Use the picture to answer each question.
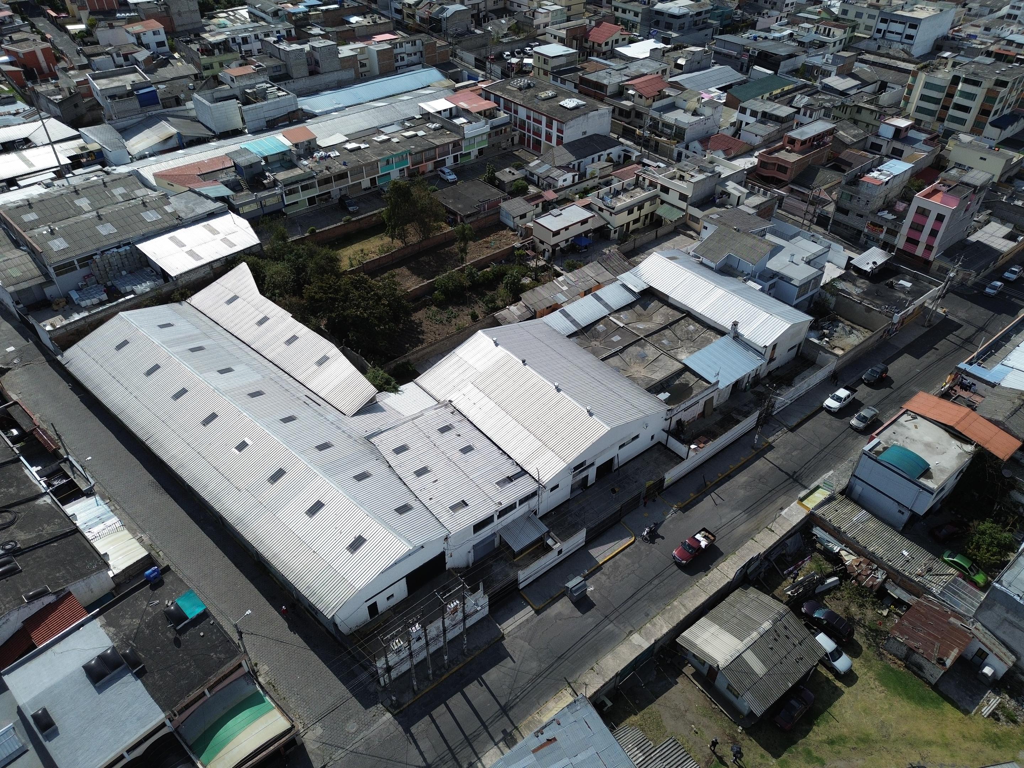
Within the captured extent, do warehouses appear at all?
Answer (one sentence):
Yes, the photo shows a warehouse.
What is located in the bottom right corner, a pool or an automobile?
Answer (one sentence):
Looking in the bottom right corner, you will find an automobile.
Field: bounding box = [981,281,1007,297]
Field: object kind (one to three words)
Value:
car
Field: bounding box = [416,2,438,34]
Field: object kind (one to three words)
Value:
house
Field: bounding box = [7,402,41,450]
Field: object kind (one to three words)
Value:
shed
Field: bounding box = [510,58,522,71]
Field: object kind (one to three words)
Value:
vehicle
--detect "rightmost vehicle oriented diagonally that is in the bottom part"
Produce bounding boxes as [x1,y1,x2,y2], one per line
[939,551,991,590]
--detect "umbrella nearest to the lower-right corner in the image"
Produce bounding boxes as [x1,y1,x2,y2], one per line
[728,742,742,756]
